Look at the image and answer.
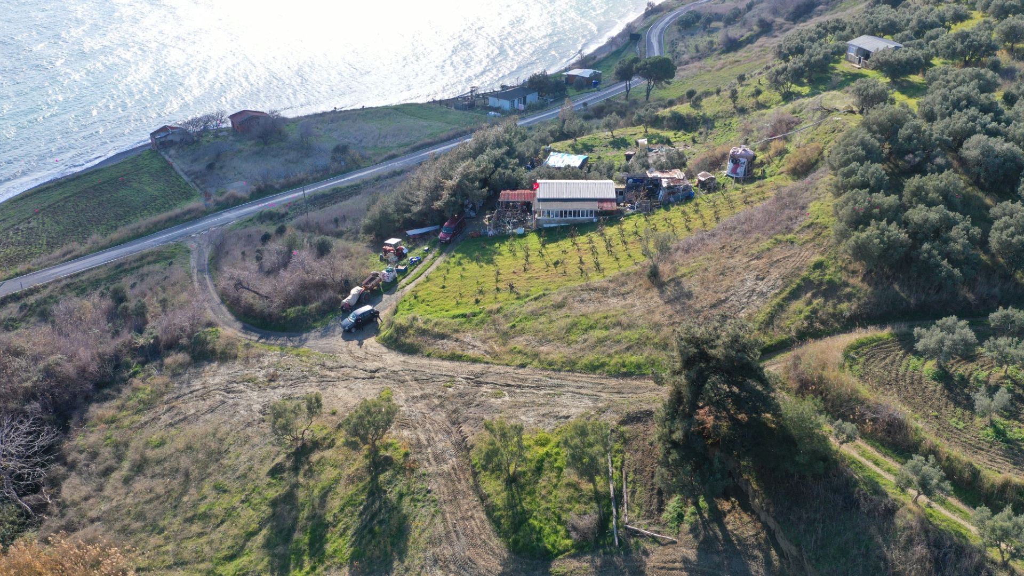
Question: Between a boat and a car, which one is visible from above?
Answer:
car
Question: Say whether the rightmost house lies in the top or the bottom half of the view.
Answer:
top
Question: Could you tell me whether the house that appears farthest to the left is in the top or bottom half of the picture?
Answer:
top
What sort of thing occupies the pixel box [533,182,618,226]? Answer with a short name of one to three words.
house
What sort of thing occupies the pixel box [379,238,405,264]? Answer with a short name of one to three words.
work vehicle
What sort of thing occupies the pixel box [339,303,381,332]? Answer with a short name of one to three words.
car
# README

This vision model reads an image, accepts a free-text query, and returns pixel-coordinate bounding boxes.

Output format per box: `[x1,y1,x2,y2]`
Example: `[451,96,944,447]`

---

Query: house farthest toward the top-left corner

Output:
[146,125,187,150]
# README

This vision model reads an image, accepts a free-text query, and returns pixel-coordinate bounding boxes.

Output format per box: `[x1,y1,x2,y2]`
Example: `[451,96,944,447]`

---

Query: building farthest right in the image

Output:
[844,39,902,59]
